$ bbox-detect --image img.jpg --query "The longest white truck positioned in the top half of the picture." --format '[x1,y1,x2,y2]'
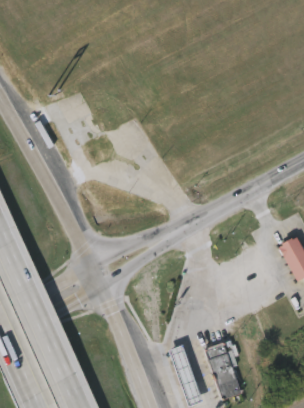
[29,114,51,148]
